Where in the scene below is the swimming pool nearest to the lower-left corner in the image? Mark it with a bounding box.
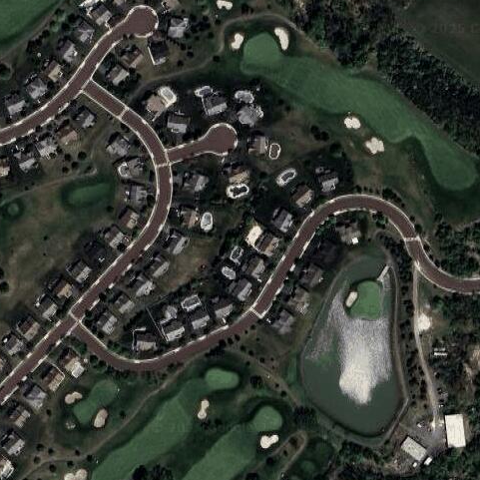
[163,305,177,320]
